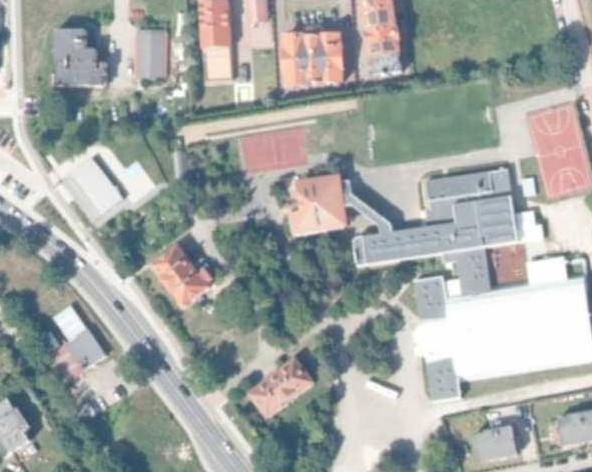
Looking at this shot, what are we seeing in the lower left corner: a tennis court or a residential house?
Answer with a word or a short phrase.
residential house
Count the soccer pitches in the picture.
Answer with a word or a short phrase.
one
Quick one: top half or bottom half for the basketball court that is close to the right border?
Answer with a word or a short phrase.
top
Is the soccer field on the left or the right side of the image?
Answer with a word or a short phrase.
right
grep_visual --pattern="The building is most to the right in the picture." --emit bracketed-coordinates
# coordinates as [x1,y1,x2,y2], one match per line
[550,408,592,444]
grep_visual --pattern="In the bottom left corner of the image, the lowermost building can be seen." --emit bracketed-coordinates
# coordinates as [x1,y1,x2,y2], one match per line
[0,393,34,454]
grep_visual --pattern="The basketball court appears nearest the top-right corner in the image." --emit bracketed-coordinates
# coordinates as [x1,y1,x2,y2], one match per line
[525,100,592,201]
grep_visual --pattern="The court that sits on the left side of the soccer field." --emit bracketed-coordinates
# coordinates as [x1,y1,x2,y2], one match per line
[236,126,308,175]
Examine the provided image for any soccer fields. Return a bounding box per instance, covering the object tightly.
[362,81,498,167]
